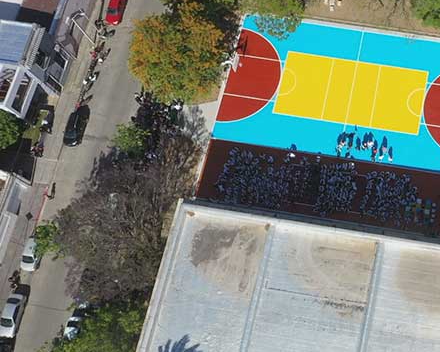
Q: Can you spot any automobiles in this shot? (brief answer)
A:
Yes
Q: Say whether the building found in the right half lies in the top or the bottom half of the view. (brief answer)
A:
bottom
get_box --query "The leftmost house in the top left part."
[0,20,38,84]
